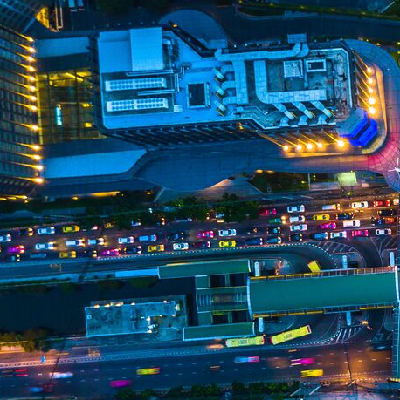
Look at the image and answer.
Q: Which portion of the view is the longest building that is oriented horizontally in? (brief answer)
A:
top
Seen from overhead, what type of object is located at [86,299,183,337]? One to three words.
building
